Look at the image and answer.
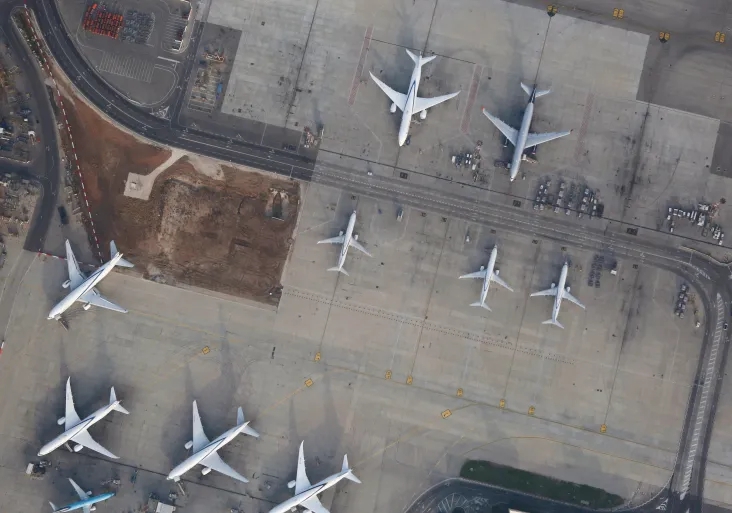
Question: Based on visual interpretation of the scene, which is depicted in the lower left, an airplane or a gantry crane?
airplane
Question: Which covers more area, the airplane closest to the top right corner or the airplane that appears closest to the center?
the airplane closest to the top right corner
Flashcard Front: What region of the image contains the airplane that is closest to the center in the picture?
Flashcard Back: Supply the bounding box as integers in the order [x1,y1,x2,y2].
[317,211,372,274]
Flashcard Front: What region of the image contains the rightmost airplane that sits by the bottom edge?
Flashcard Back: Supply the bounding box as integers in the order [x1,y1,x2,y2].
[279,447,360,513]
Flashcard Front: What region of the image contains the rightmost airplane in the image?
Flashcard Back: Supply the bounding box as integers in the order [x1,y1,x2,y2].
[530,263,586,327]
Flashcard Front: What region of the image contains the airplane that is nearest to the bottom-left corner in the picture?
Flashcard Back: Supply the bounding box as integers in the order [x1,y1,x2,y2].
[49,479,114,513]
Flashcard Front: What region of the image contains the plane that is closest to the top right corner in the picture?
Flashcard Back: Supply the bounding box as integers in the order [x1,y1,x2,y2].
[481,84,573,181]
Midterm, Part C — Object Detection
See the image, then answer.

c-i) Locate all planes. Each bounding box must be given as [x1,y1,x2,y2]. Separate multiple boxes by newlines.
[481,84,573,181]
[49,479,114,513]
[167,399,258,480]
[317,211,372,274]
[48,239,133,319]
[369,50,460,146]
[459,246,515,309]
[38,377,129,458]
[279,447,360,513]
[530,263,586,327]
